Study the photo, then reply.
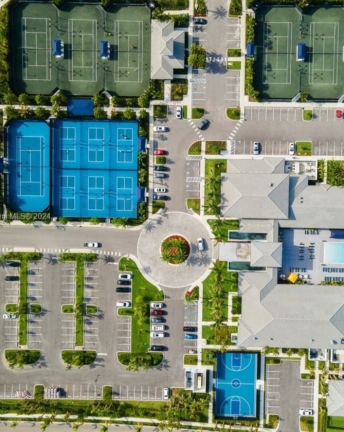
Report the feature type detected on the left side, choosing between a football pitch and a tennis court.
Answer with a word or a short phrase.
tennis court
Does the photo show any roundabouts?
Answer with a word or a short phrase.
Yes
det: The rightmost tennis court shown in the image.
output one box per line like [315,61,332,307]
[301,5,344,98]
